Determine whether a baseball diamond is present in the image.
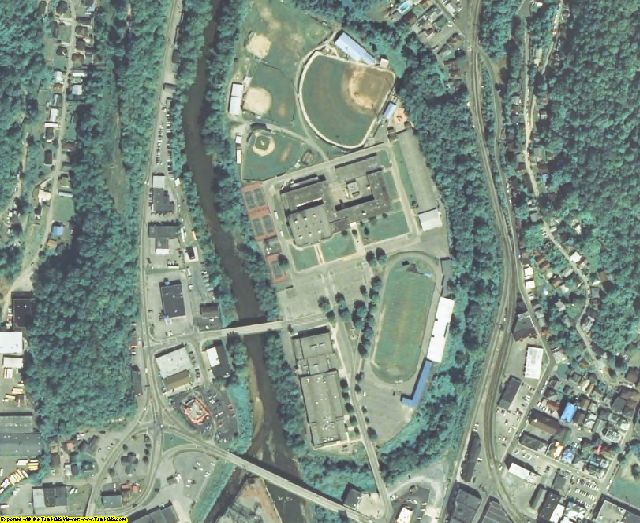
Yes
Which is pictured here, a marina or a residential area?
residential area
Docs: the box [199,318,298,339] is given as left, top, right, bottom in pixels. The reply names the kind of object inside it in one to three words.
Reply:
bridge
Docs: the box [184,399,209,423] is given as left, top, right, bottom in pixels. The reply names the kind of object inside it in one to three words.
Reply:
building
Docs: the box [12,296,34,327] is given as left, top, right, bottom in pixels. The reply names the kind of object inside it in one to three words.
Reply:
building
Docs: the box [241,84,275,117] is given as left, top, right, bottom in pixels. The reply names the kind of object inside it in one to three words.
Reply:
baseball field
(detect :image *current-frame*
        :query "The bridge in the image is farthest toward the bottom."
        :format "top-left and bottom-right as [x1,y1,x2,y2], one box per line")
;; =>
[198,437,381,523]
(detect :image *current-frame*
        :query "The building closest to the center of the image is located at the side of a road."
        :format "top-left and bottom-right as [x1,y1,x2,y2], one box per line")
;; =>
[283,158,396,245]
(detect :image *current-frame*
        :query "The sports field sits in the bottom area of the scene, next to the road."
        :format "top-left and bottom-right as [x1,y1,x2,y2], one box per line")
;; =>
[371,249,439,388]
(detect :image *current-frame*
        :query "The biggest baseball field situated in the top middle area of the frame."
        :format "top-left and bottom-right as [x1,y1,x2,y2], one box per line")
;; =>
[299,51,395,151]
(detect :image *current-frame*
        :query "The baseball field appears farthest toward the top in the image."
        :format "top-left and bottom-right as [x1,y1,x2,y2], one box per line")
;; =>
[243,29,274,59]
